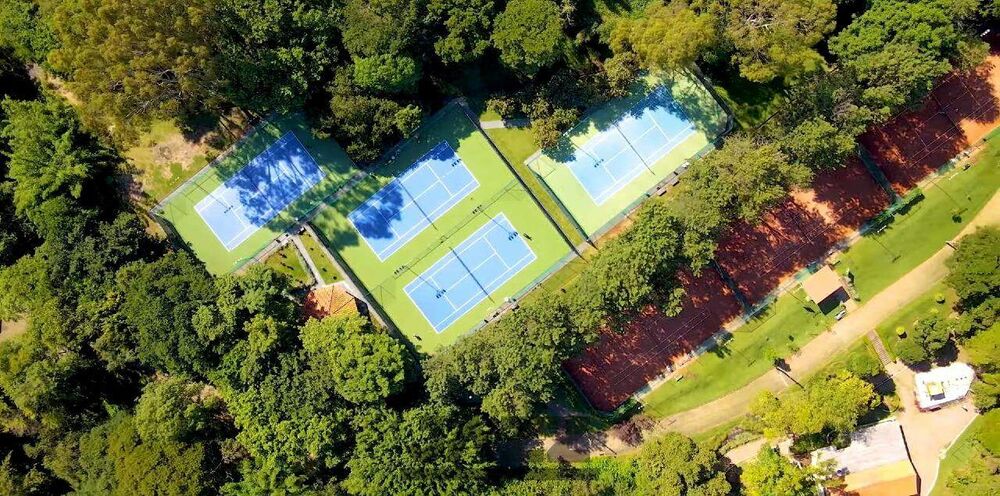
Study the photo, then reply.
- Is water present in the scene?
No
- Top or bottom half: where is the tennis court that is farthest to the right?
top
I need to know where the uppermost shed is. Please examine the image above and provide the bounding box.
[796,266,842,304]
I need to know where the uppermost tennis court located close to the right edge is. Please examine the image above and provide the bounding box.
[852,19,1000,197]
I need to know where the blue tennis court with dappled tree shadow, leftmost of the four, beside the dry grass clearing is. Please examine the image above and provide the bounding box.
[163,105,357,273]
